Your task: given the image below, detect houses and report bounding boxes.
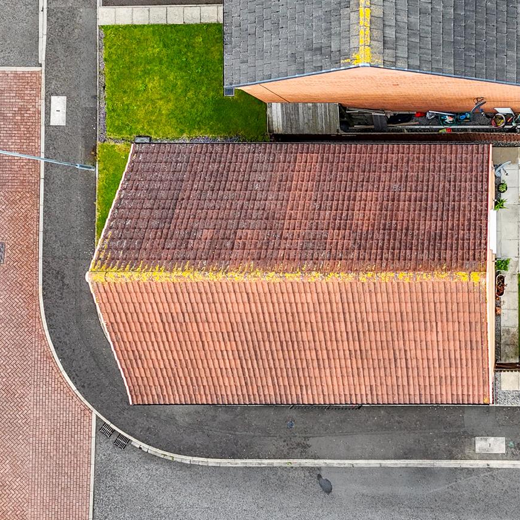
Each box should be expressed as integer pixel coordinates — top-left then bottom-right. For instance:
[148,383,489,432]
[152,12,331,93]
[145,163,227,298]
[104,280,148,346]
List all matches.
[85,135,497,407]
[221,0,520,111]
